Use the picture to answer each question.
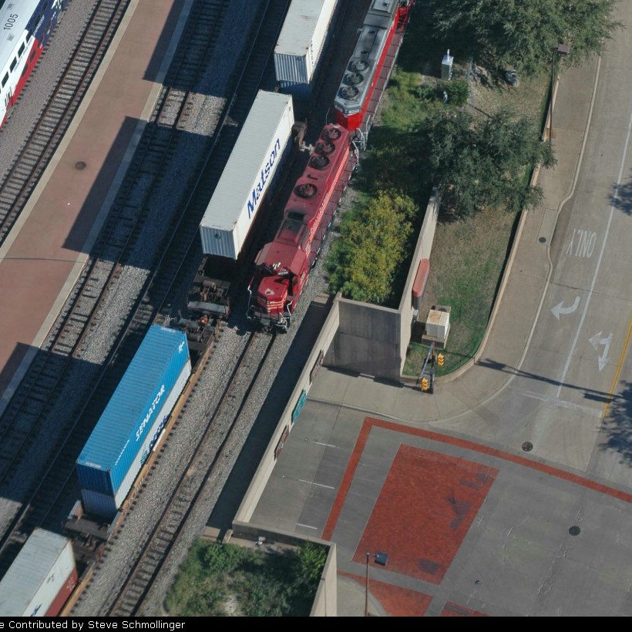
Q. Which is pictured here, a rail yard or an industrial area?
rail yard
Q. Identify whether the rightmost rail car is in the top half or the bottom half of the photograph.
top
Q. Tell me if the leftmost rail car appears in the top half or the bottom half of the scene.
bottom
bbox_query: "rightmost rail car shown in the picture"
[330,0,417,166]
